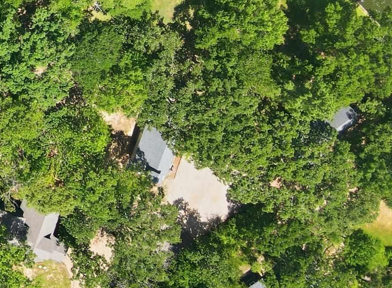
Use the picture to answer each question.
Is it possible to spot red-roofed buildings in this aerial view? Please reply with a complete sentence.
No, I can see no red-roofed building in this picture.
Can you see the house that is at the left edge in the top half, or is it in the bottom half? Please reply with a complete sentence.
It is in the bottom half that the house that is at the left edge appears.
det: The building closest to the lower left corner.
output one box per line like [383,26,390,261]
[0,194,66,262]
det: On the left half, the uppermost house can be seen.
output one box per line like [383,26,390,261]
[128,123,176,182]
